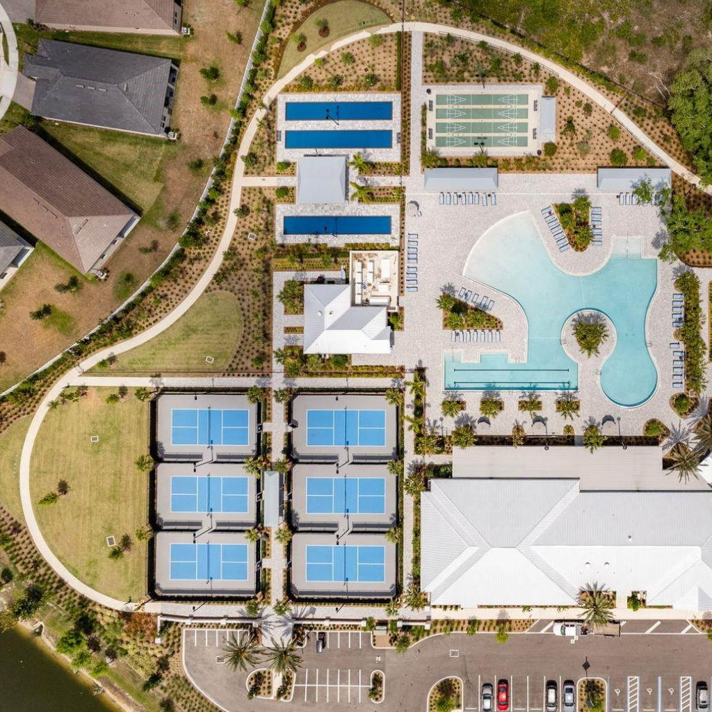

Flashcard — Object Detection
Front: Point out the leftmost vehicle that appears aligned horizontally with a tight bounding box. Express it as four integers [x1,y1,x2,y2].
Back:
[552,622,587,637]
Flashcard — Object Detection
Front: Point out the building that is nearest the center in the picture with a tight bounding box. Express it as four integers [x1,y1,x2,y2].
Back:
[304,284,391,353]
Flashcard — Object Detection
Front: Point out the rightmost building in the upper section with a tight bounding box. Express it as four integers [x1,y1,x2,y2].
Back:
[598,168,670,191]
